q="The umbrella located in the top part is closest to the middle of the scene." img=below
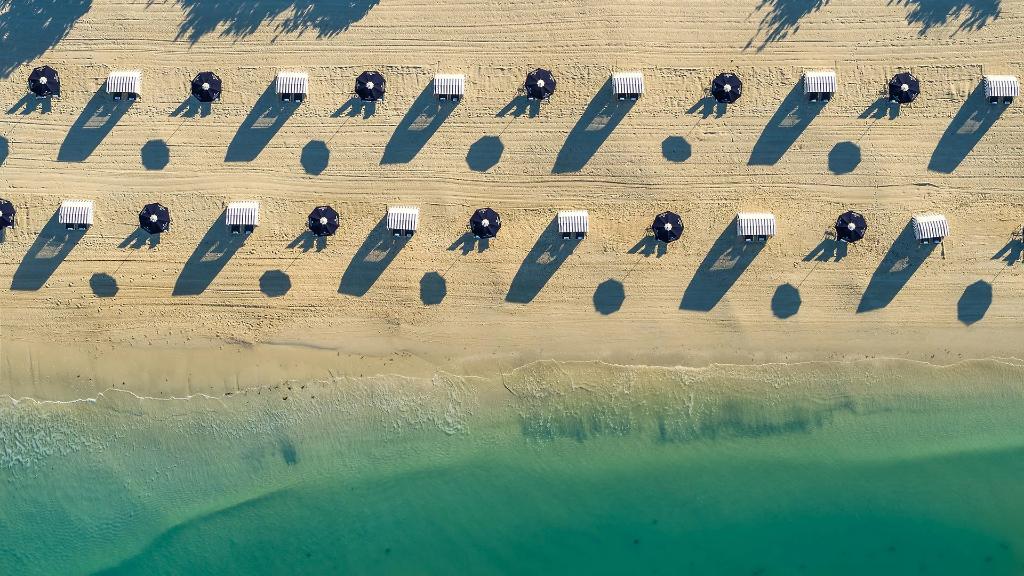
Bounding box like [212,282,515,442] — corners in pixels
[470,208,501,239]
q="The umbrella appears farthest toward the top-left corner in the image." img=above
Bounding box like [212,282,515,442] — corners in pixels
[28,65,60,96]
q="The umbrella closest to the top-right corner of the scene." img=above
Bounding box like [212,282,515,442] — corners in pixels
[889,73,919,103]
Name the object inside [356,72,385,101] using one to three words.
umbrella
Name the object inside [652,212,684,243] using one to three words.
umbrella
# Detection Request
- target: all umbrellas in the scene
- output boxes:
[0,198,17,229]
[835,211,867,243]
[139,202,170,233]
[712,73,742,103]
[525,69,556,100]
[889,73,919,103]
[28,65,60,96]
[652,212,684,243]
[192,72,221,102]
[356,72,385,101]
[470,208,501,239]
[309,206,339,236]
